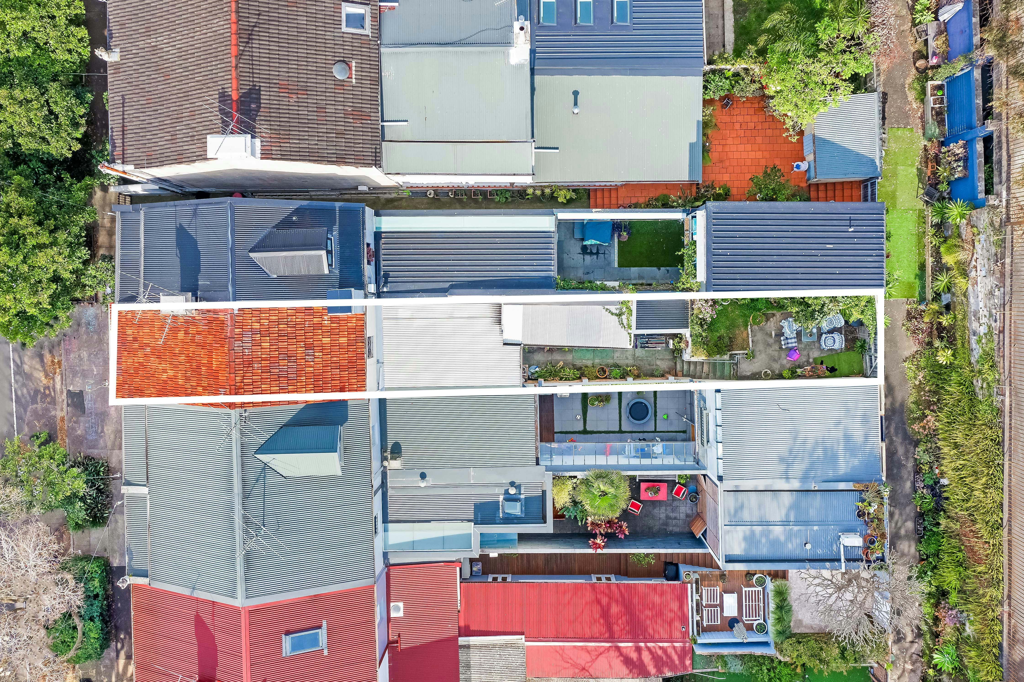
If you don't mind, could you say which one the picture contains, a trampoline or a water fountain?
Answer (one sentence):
This aerial view contains a trampoline.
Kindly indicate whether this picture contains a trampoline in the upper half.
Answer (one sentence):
No, the scene shows no trampoline in the upper half.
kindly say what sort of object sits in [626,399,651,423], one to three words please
trampoline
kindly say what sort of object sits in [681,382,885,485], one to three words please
building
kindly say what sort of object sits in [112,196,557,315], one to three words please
house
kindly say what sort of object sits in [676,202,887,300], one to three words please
building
